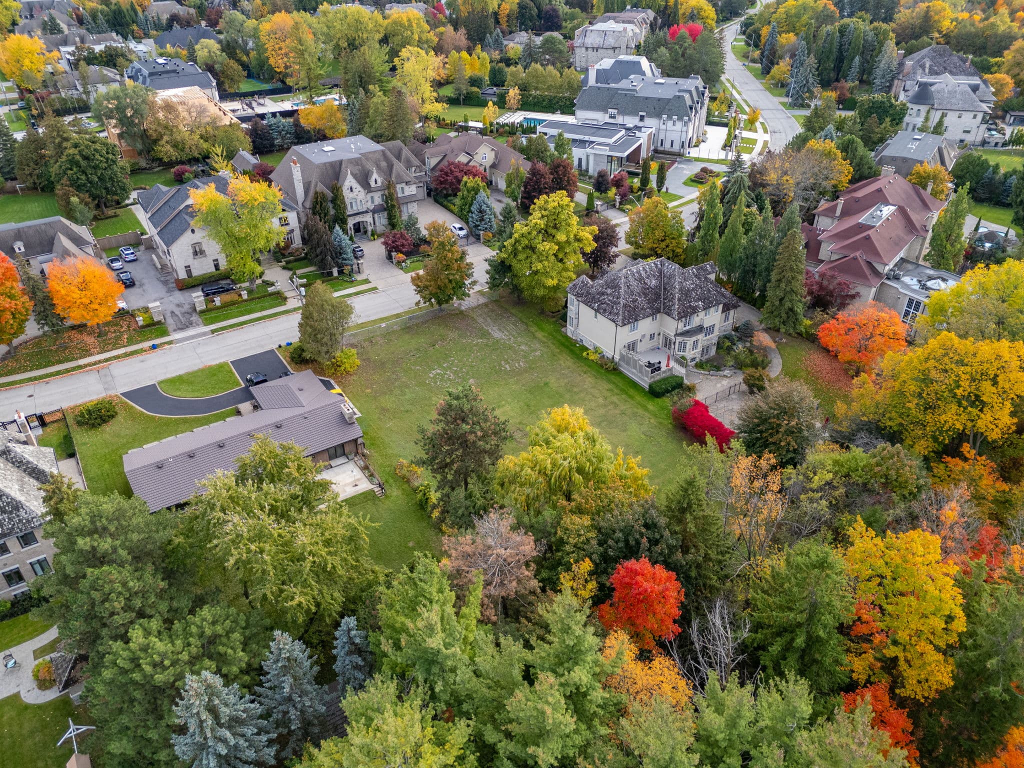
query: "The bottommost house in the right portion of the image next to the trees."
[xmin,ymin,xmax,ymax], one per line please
[565,250,742,389]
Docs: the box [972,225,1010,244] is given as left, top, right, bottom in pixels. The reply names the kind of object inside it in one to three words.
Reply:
building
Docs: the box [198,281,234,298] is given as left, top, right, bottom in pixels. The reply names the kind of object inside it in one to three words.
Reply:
car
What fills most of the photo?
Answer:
trees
